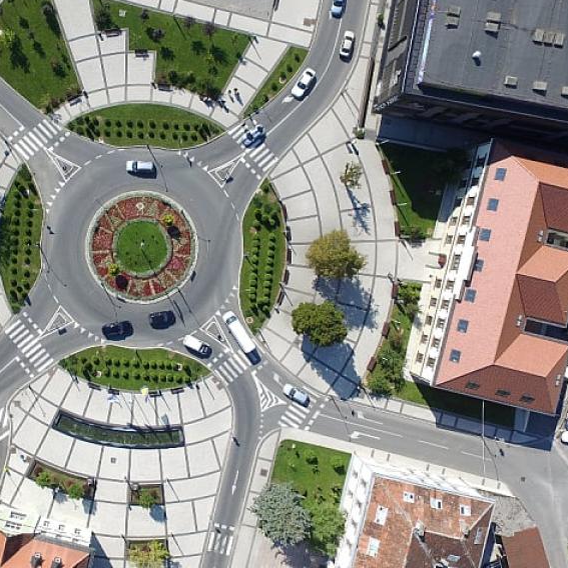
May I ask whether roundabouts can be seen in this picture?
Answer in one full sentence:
Yes, looking at the shot, I can spot a roundabout.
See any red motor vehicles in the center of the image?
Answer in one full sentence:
No, looking in the center of the image, there is no red motor vehicle.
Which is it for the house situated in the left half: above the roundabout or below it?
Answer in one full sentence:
From this view, the house situated in the left half can be seen below the roundabout.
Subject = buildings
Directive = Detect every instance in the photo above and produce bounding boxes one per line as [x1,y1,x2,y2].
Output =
[0,508,92,568]
[321,455,495,568]
[374,0,568,141]
[404,137,568,417]
[496,524,550,568]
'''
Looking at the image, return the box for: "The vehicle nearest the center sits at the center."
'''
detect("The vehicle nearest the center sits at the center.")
[219,308,261,358]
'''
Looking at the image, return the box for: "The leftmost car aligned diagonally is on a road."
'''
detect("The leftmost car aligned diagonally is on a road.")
[181,334,210,357]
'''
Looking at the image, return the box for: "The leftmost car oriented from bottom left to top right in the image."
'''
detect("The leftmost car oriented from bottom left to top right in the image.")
[240,124,267,147]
